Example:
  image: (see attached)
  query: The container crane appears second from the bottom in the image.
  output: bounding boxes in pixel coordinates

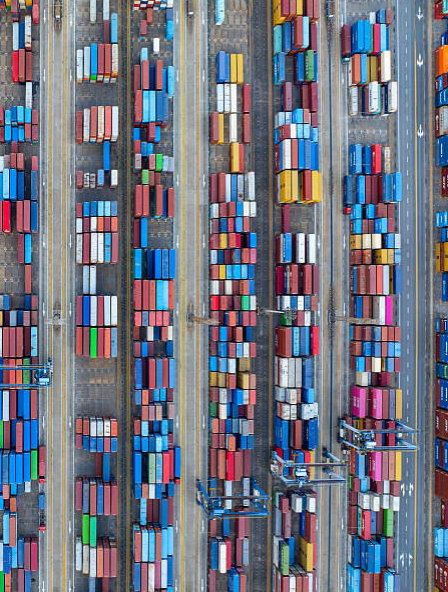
[271,448,349,487]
